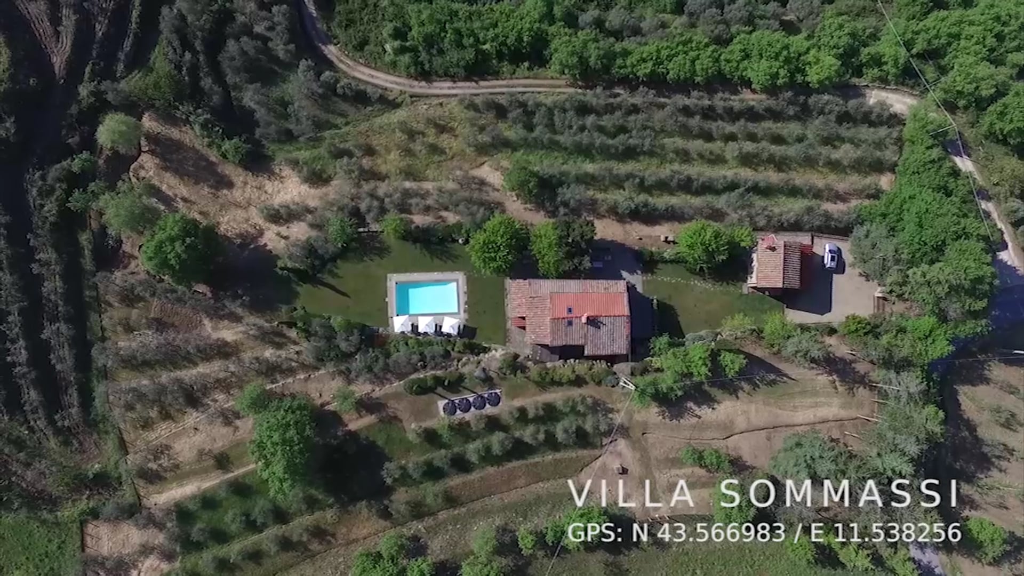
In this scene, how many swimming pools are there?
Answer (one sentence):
My tally gives 1 swimming pool in this photo.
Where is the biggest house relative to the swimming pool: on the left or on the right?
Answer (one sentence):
Relative to the swimming pool, the biggest house lies to the right.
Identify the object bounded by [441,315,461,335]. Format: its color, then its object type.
white umbrella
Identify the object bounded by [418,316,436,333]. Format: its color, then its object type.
white umbrella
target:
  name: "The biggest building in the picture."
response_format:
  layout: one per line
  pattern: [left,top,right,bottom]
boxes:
[509,279,632,356]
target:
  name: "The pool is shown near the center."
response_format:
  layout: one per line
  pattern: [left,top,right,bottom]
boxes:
[387,272,468,335]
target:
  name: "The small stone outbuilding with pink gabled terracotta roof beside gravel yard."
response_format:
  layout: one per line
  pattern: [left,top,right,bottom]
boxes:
[753,240,814,289]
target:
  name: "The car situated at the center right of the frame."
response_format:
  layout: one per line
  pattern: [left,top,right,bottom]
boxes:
[823,243,838,271]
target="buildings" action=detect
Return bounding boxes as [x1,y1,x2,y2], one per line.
[753,240,814,289]
[509,279,632,356]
